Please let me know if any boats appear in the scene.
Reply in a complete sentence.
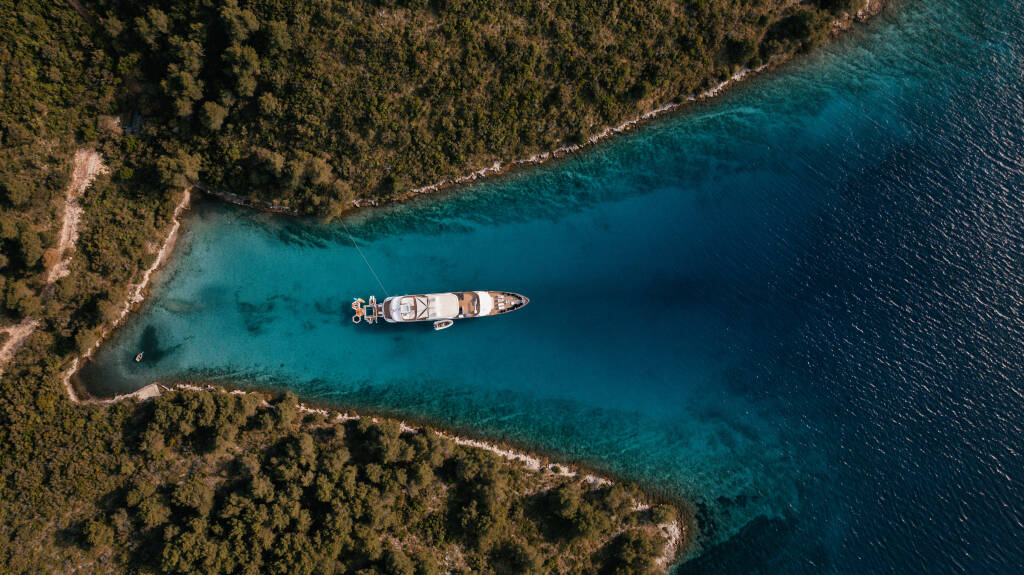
Yes, the photo shows a boat.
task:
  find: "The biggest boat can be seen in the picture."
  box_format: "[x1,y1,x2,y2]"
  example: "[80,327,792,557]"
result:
[376,290,529,321]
